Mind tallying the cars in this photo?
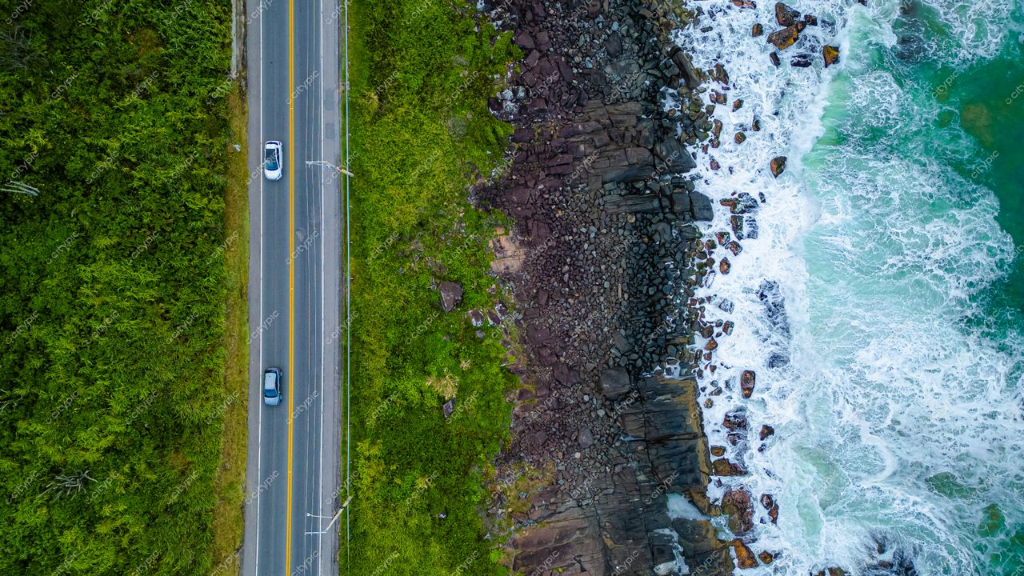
two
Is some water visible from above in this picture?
Yes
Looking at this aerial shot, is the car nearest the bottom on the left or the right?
left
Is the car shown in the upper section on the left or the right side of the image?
left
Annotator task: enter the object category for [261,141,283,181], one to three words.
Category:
car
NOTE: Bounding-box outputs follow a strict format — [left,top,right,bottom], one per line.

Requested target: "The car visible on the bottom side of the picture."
[261,369,282,407]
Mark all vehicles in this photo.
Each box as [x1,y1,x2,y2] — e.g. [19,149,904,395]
[261,141,283,181]
[261,369,282,407]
